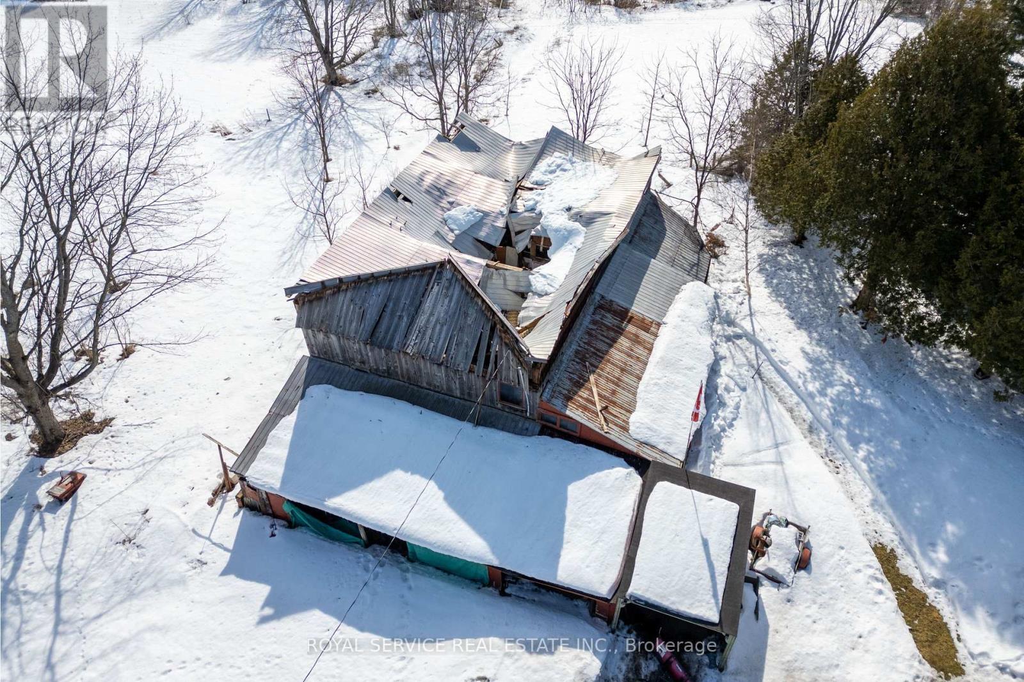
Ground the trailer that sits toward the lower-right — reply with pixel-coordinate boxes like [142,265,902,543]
[749,509,815,591]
